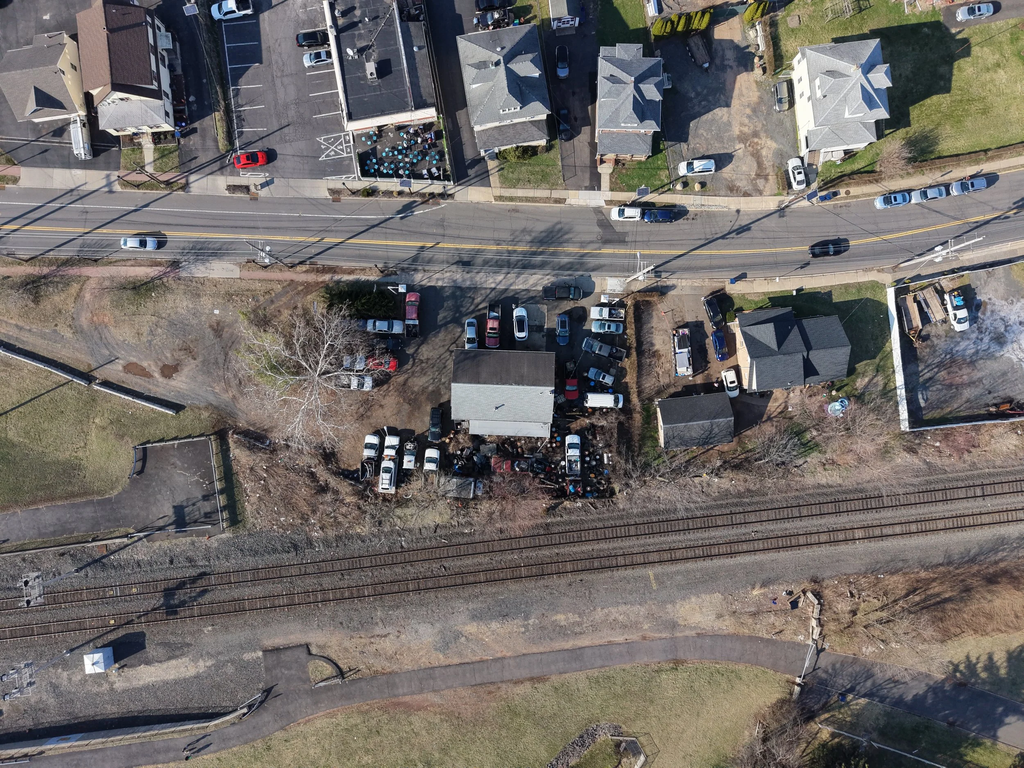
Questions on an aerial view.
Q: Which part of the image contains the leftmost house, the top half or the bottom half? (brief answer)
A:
top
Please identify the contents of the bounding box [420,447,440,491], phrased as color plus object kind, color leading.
white vehicle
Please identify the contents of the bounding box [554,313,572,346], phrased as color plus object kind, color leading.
black car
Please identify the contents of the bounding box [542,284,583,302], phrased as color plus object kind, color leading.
black vehicle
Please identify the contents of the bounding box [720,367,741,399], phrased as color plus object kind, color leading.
white car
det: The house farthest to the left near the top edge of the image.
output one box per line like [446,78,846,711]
[0,32,88,128]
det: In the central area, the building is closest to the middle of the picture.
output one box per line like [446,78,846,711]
[451,349,555,438]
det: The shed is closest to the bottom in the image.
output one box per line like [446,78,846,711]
[84,647,114,674]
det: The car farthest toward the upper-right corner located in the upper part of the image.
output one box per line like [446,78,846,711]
[953,2,996,25]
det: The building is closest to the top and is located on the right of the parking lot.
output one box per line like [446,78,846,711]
[548,0,578,35]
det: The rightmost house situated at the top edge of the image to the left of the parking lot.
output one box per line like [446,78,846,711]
[75,0,182,146]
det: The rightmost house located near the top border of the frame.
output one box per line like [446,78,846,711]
[785,38,892,174]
